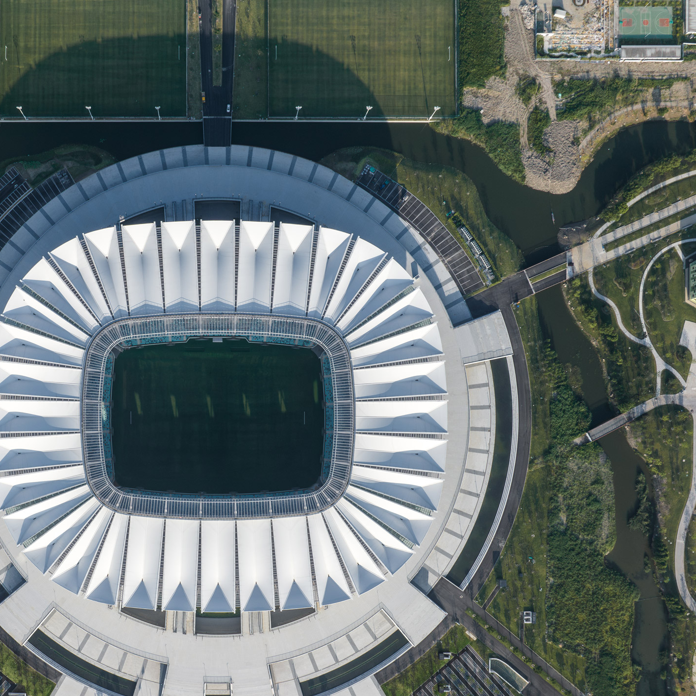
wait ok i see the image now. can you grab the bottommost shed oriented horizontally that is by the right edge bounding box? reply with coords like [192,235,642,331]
[618,44,681,60]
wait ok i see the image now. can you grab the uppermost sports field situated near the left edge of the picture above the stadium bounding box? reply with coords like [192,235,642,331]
[0,0,188,118]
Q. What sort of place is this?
sports ground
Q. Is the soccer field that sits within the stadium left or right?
left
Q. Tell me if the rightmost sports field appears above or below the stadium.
above it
